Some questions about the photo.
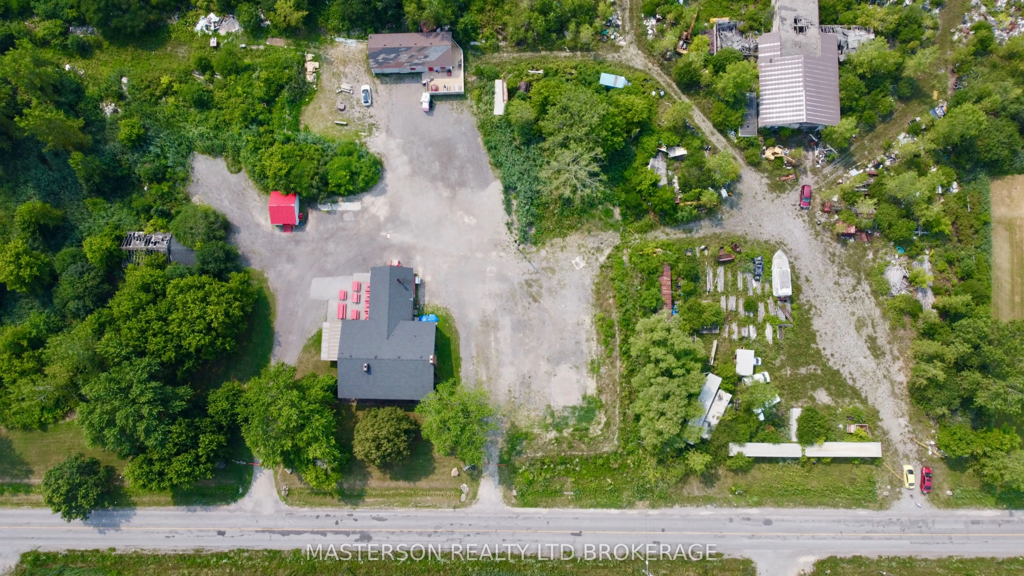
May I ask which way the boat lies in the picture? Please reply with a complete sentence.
The boat is oriented up and down.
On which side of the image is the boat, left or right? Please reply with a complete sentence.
The boat appears in the right half of the scene.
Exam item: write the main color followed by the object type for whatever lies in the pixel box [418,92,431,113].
white vehicle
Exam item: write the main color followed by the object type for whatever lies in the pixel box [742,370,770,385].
white car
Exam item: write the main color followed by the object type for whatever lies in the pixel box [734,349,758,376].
white truck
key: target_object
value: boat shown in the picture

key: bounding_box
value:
[772,250,792,300]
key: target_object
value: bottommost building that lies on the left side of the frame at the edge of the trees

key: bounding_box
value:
[321,266,436,400]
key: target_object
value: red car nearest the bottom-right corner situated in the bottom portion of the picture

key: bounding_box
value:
[918,467,931,493]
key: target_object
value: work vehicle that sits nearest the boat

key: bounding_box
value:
[753,255,766,286]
